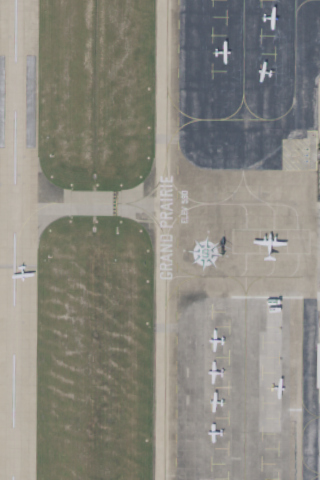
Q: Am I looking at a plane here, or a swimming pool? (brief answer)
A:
plane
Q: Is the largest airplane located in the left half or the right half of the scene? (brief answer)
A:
right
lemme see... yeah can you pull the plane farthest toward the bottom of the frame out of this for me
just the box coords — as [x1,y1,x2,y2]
[208,423,223,444]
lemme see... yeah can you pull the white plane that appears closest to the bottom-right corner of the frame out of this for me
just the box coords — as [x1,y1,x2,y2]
[272,378,285,400]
